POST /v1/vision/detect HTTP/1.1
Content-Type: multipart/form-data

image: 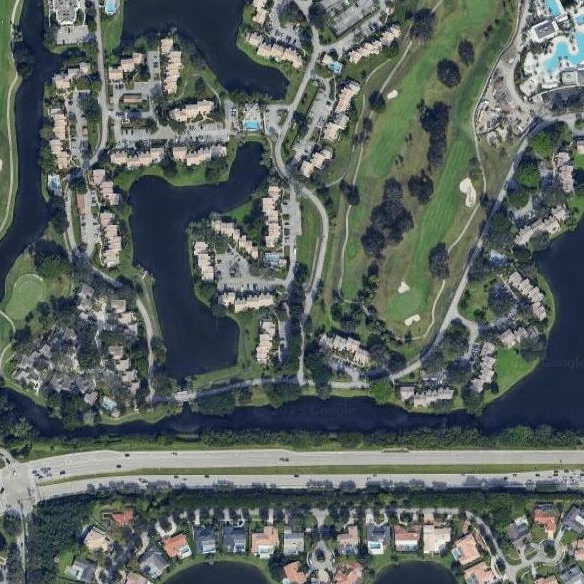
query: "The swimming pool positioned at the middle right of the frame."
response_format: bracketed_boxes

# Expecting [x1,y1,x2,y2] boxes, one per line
[489,250,509,264]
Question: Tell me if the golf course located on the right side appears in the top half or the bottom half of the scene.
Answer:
top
